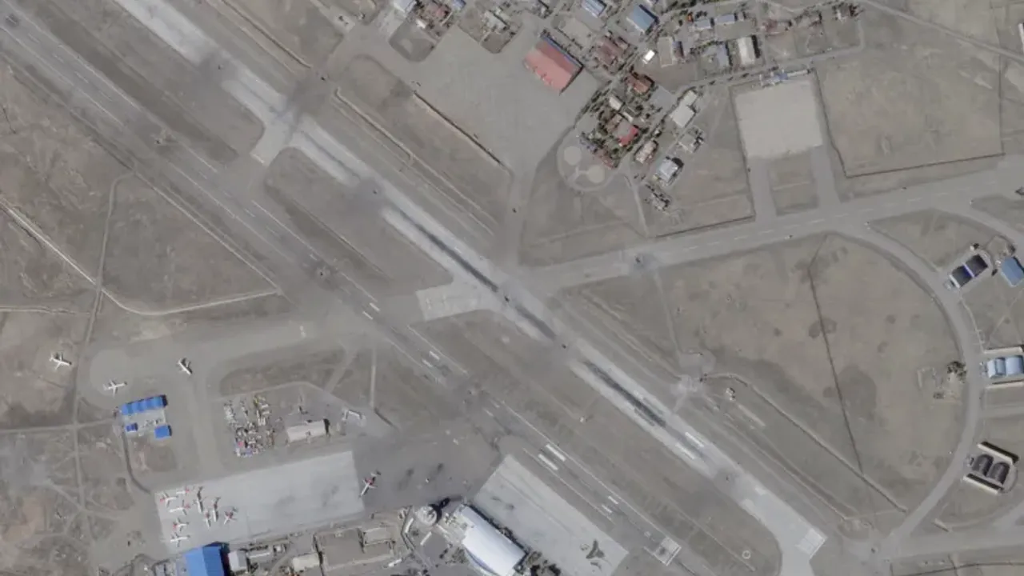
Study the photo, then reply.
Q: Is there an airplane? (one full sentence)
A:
Yes, the frame does contain an airplane.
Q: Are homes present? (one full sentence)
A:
Yes, the image includes a home.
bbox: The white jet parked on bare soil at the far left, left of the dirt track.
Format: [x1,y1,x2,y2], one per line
[48,350,72,371]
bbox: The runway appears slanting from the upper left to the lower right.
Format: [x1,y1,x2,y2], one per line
[0,0,685,570]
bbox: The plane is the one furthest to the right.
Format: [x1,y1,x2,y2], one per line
[362,472,379,497]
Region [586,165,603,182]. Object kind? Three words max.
helipad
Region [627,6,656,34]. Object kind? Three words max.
building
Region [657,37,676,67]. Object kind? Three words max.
house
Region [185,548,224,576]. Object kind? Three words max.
hangar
